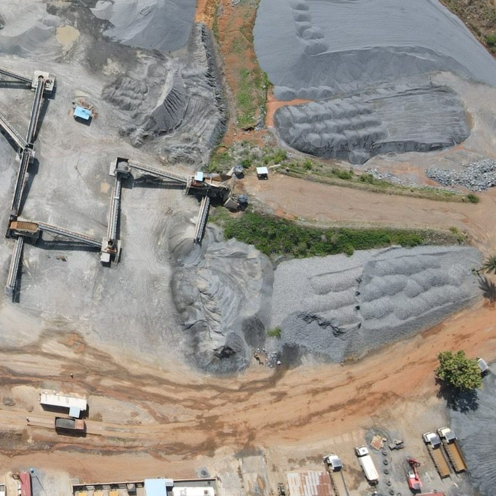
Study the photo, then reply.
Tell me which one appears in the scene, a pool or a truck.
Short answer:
truck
